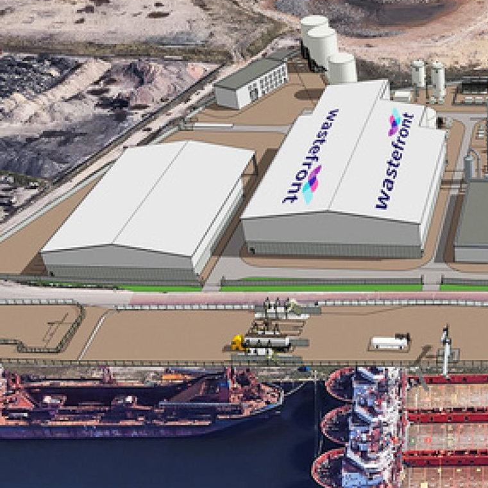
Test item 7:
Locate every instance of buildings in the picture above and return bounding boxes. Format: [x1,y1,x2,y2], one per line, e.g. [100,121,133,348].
[214,53,301,106]
[39,139,256,282]
[241,76,448,258]
[455,180,488,265]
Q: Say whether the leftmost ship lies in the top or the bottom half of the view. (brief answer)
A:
bottom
